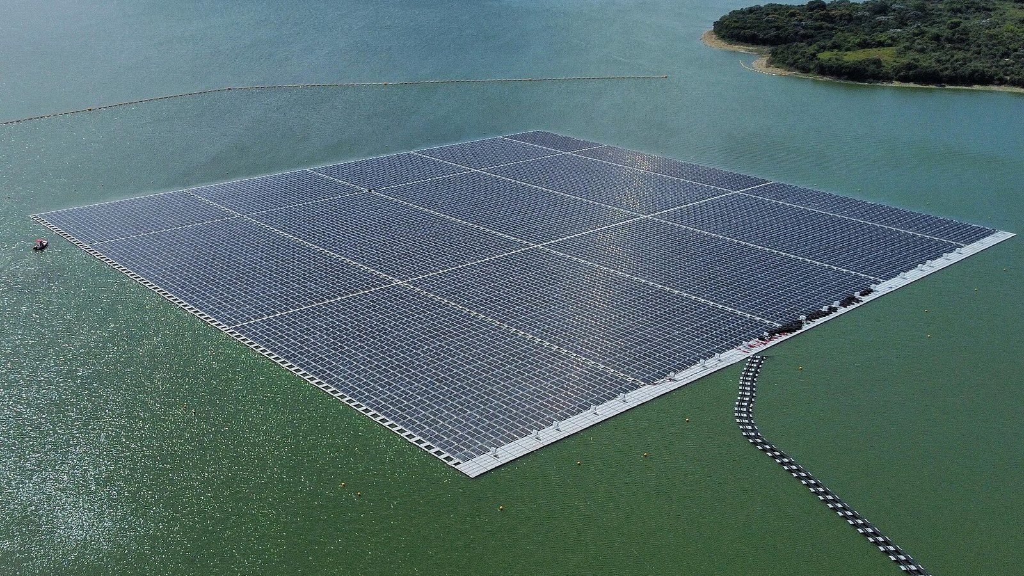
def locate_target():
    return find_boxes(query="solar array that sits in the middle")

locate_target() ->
[30,131,1016,479]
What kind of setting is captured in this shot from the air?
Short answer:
solar farm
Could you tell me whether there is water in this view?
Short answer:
Yes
